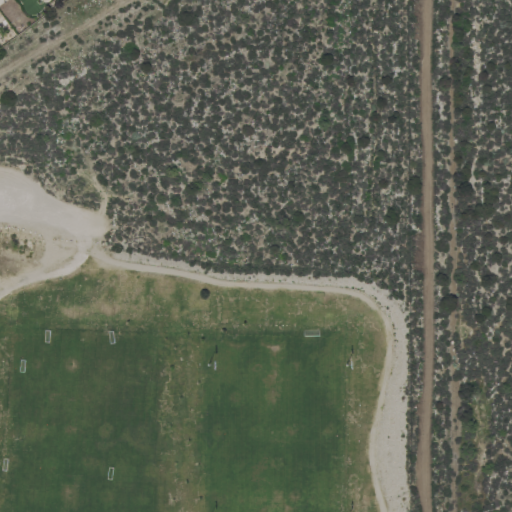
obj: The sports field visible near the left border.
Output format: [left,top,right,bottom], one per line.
[10,330,160,512]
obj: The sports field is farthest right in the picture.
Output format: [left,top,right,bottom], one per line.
[204,332,346,512]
